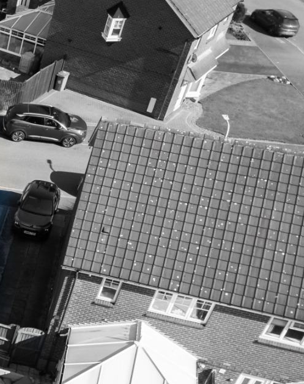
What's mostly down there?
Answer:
buildings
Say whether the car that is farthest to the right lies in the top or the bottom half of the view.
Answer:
top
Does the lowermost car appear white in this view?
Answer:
No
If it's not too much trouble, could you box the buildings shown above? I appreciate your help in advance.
[45,0,224,117]
[45,121,304,384]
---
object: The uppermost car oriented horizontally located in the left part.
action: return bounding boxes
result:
[4,103,88,149]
